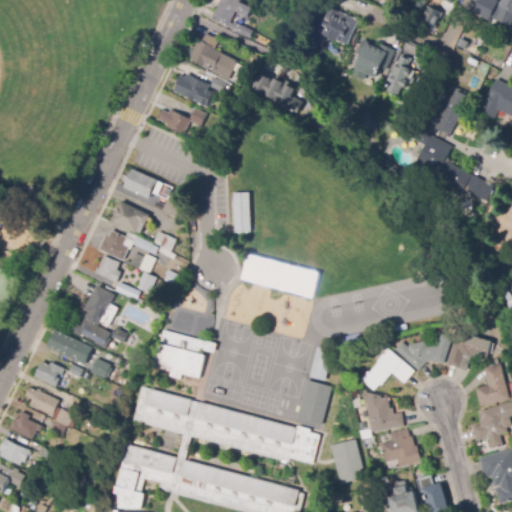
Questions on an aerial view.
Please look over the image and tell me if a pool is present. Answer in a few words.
Yes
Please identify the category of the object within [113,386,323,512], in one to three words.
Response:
building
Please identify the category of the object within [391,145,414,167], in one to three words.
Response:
swimming pool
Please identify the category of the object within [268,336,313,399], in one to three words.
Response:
basketball court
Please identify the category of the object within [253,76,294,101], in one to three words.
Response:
house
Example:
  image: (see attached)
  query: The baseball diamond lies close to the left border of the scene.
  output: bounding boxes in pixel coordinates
[0,0,166,186]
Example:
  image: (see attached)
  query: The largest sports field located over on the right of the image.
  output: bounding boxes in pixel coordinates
[227,100,426,296]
